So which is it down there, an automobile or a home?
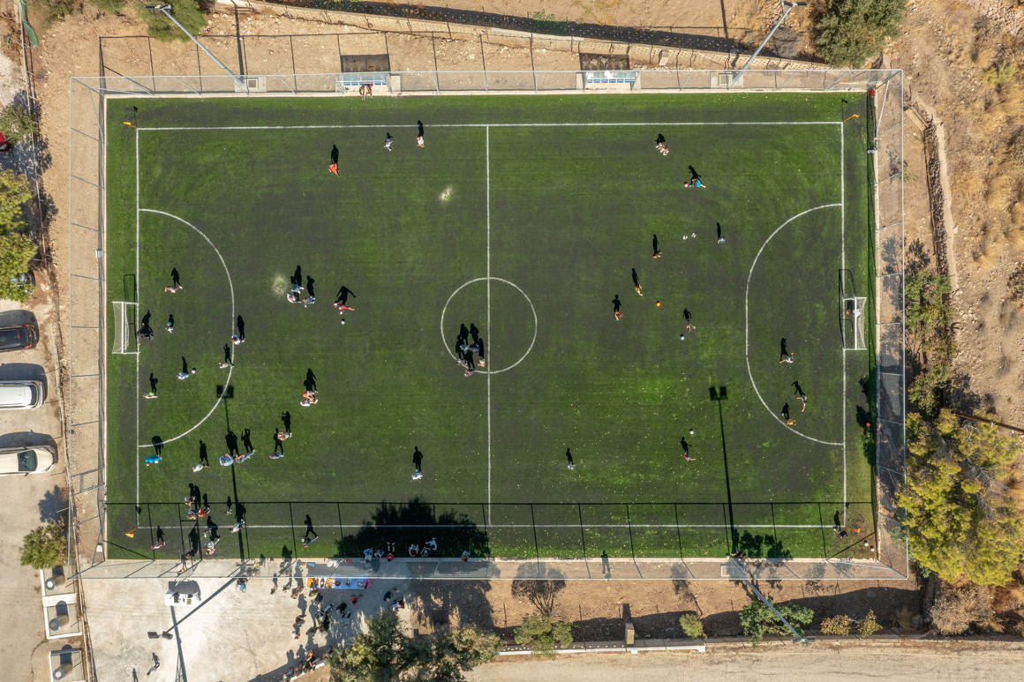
automobile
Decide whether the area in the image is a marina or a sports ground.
sports ground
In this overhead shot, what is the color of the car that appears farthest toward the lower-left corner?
white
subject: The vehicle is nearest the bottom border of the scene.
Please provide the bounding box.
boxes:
[0,445,56,480]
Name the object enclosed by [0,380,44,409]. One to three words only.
car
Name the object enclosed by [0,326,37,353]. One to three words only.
car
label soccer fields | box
[107,93,879,559]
